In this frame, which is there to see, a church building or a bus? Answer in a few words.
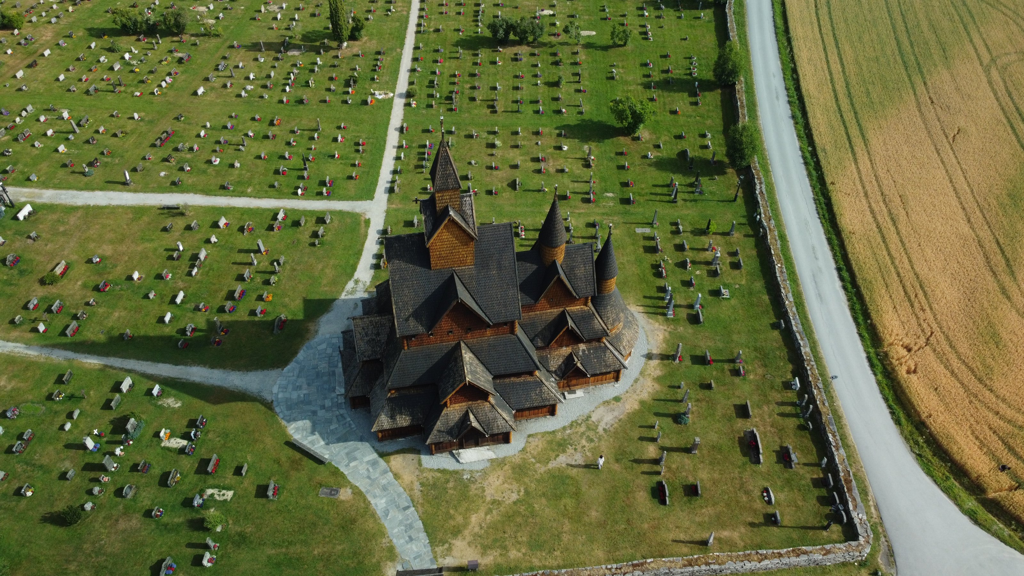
church building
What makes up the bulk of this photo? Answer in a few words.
grass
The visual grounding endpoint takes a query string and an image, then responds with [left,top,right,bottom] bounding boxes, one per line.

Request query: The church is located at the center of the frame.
[337,108,641,456]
